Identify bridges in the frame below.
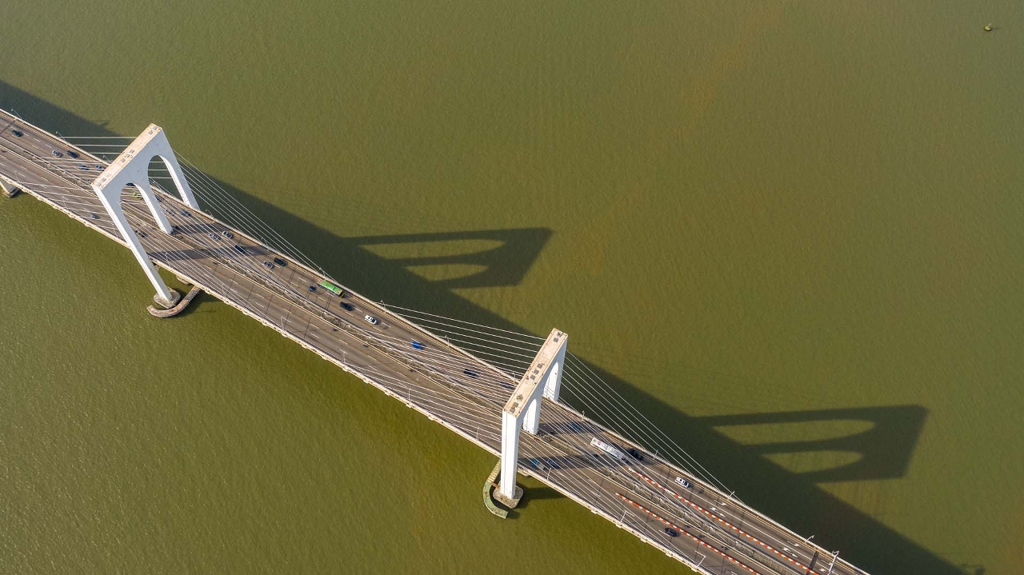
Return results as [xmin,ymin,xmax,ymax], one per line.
[0,107,872,575]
